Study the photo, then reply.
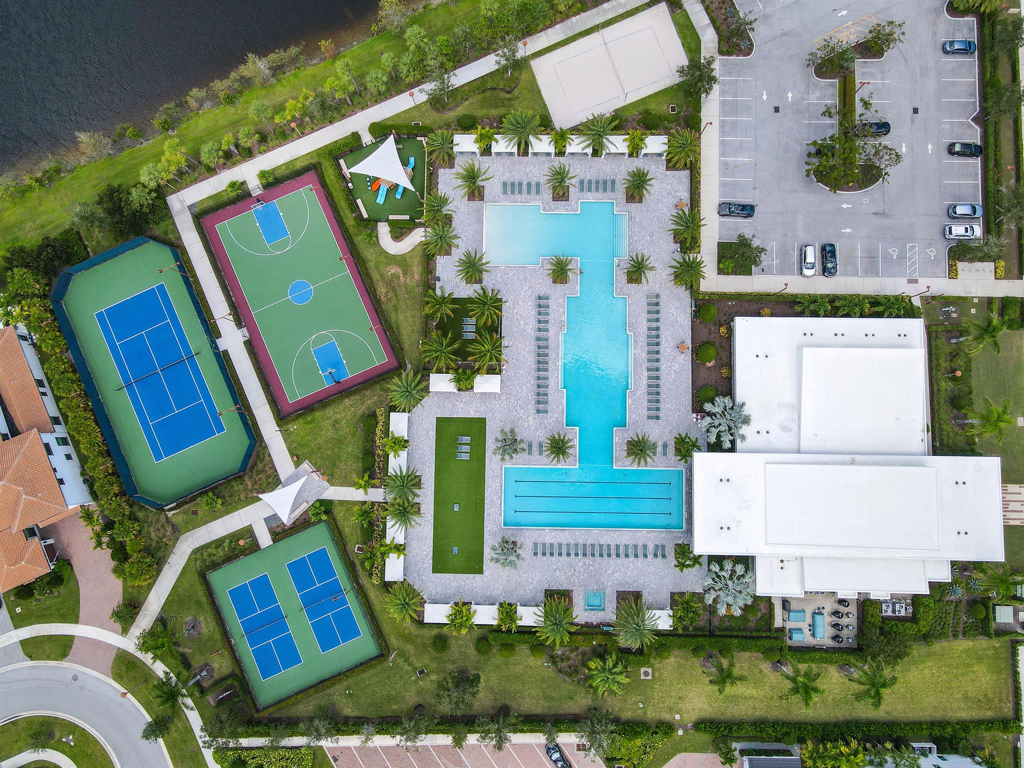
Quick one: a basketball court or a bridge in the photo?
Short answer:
basketball court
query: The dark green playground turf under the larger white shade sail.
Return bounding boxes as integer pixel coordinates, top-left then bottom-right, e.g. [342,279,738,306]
[338,137,425,220]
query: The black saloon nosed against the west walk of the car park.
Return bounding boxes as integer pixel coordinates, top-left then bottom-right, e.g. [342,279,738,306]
[718,201,754,218]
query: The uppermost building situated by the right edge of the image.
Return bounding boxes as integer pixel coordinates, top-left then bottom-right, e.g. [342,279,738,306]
[692,317,1005,599]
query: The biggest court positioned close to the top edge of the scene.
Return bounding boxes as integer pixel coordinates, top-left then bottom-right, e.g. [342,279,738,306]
[530,1,690,130]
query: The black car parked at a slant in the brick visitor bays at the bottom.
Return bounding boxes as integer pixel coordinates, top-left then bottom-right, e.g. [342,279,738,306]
[546,742,569,768]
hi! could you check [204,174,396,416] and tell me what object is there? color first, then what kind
green basketball court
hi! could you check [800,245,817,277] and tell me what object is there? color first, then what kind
white car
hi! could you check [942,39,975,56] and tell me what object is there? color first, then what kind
blue car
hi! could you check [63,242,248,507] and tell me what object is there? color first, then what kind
green tennis court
